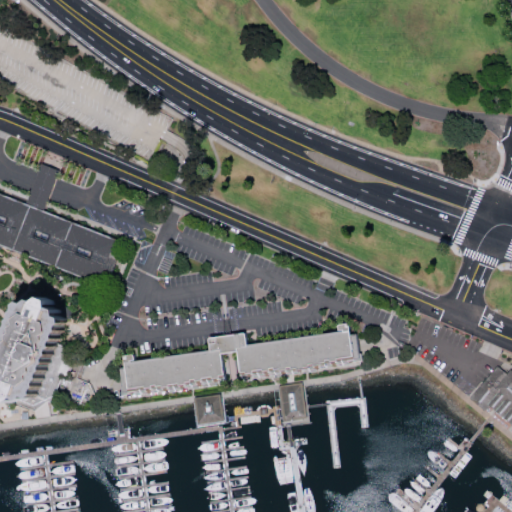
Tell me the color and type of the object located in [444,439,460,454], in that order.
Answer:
white boat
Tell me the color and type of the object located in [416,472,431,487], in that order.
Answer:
white boat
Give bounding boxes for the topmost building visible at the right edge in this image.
[470,366,512,436]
